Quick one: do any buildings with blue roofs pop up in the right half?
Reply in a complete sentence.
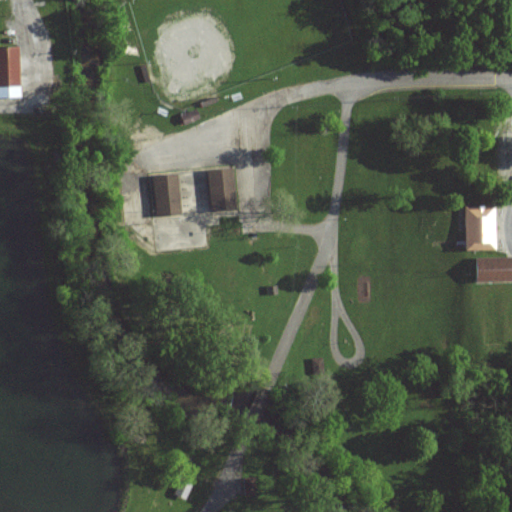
No, there's no building with a blue roof to be seen in the right half.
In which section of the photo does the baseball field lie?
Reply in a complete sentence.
You can find the baseball field in the top area of the picture.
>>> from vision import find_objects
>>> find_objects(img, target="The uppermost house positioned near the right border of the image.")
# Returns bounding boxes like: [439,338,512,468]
[465,206,498,252]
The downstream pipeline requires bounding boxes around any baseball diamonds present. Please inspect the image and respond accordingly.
[130,0,363,106]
